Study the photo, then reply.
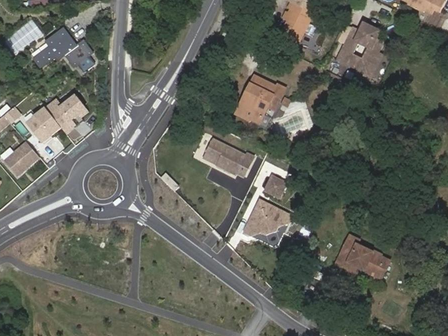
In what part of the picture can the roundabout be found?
left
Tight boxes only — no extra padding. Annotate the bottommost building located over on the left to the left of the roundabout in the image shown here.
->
[2,142,40,178]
